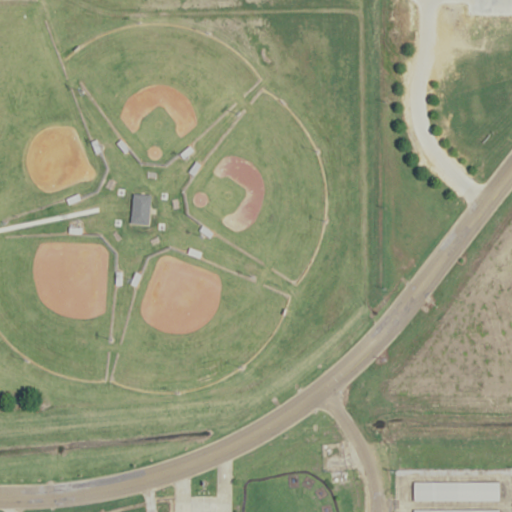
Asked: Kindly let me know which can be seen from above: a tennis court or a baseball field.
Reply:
baseball field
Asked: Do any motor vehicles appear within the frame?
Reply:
No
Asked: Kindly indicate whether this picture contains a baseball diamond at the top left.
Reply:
Yes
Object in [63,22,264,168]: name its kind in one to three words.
baseball field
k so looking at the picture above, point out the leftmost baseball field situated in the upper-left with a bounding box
[0,19,110,223]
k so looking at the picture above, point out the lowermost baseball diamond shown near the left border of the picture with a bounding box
[0,232,120,384]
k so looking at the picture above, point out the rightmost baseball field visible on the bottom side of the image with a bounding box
[110,244,291,396]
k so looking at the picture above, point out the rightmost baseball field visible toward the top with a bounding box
[181,86,330,286]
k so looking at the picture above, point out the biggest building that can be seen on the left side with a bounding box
[130,193,152,226]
